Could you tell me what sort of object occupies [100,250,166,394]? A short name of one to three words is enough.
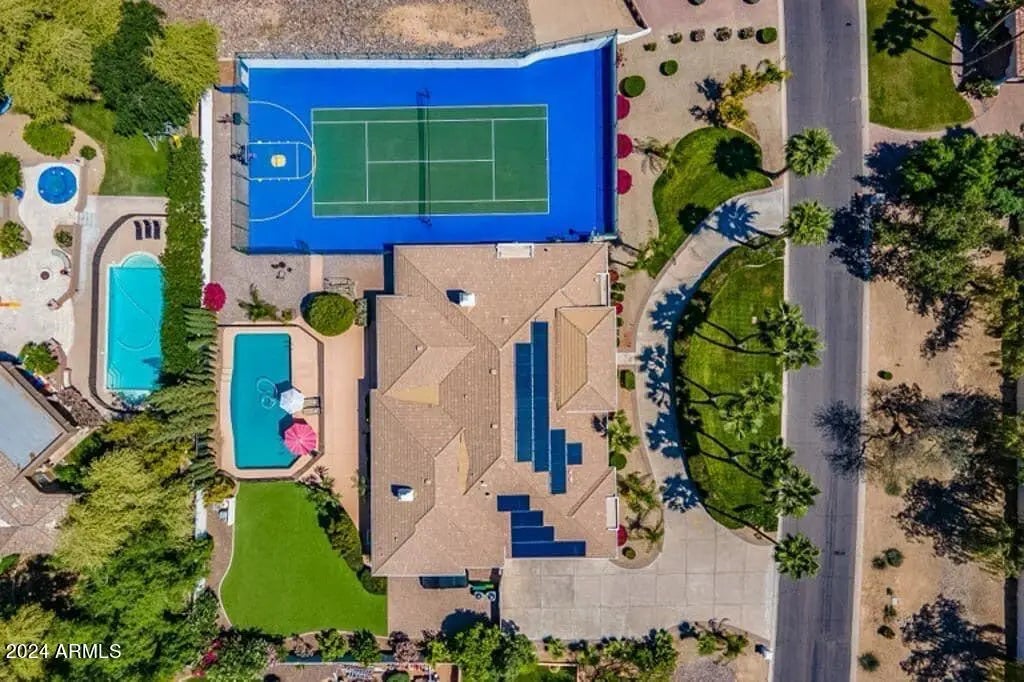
swimming pool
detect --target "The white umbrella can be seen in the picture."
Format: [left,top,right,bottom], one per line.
[280,389,304,414]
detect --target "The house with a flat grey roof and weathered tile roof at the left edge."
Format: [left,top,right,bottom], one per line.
[0,338,89,555]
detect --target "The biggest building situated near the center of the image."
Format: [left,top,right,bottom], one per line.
[370,242,618,578]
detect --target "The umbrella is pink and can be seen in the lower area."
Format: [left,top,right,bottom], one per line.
[285,422,317,454]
